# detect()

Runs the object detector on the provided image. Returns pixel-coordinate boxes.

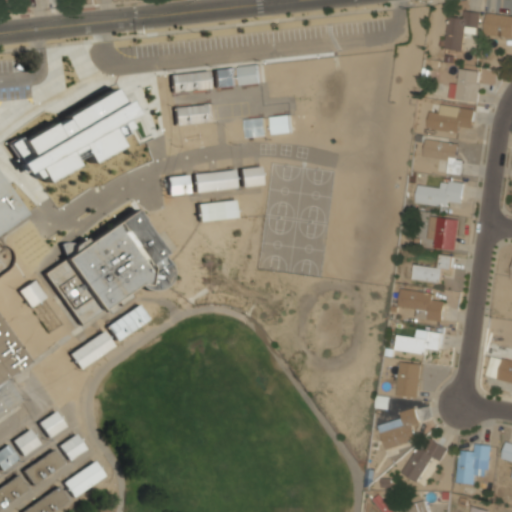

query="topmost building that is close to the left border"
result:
[10,89,144,182]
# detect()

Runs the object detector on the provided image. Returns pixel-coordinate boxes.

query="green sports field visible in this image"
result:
[97,314,354,512]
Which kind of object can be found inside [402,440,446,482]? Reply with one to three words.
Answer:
house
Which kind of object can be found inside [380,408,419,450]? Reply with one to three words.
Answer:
house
